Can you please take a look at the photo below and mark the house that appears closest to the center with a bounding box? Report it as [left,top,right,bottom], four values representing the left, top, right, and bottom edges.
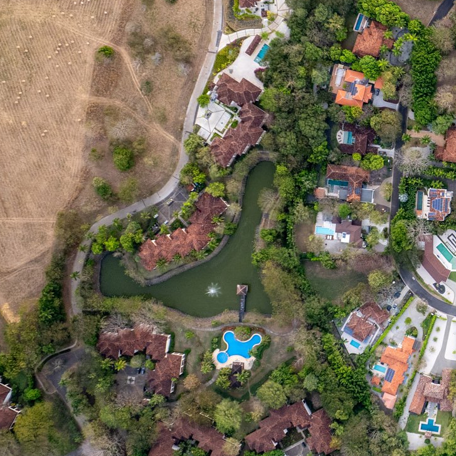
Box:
[139,185,224,269]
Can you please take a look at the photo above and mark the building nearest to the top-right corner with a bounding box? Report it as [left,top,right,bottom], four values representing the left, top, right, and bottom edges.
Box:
[360,21,395,54]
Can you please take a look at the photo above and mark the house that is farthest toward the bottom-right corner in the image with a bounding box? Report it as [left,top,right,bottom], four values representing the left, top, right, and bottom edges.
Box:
[411,368,456,414]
